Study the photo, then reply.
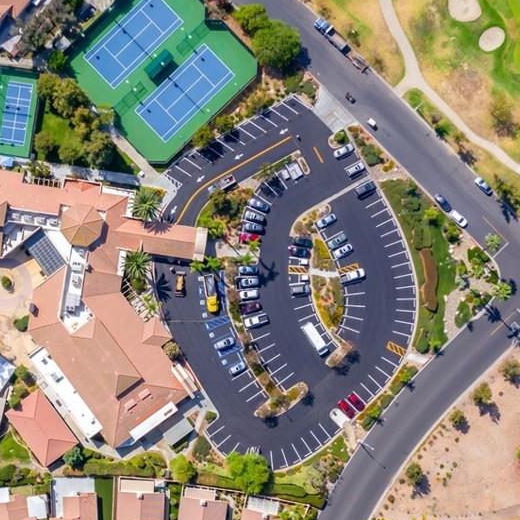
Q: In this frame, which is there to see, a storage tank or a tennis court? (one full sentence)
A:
This aerial view contains a tennis court.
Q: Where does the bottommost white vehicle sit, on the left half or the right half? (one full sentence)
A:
You can find the bottommost white vehicle on the right side of the picture.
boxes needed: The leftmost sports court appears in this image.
[0,66,38,155]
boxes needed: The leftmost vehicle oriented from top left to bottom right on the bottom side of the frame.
[300,321,328,353]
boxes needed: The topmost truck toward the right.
[315,18,348,46]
